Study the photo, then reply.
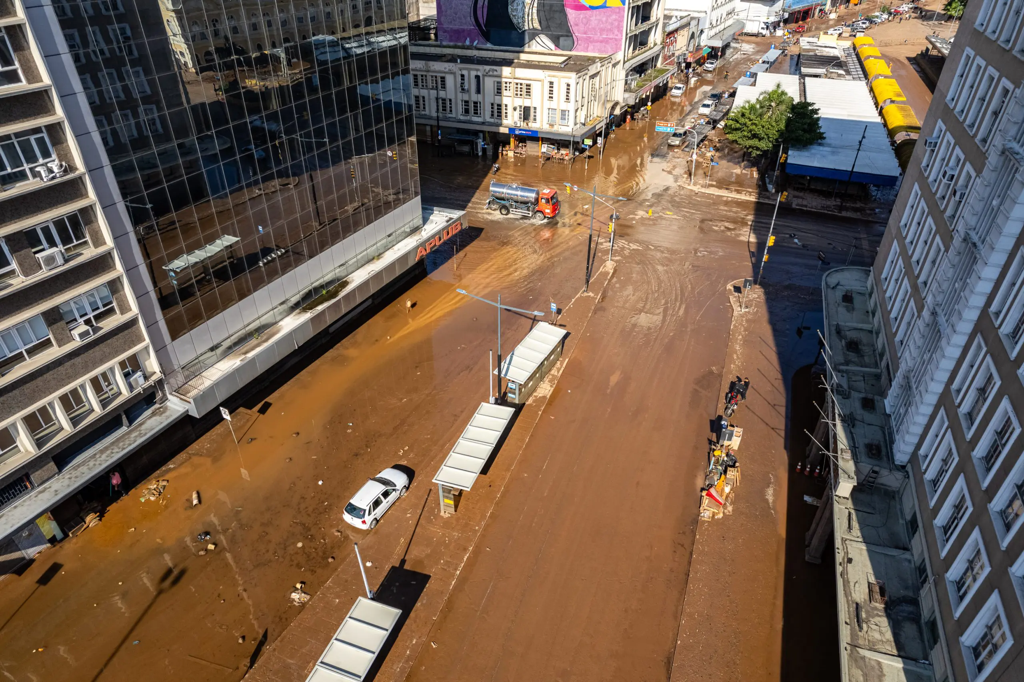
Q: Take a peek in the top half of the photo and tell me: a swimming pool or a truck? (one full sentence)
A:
Looking in the top half of the photo, you will find a truck.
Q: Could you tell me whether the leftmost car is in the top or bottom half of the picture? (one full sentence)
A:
You can find the leftmost car in the bottom half.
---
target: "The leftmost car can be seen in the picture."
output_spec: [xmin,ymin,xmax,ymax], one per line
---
[335,468,410,535]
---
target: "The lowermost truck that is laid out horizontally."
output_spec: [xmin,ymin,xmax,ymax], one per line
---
[481,173,561,221]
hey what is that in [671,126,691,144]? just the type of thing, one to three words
car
